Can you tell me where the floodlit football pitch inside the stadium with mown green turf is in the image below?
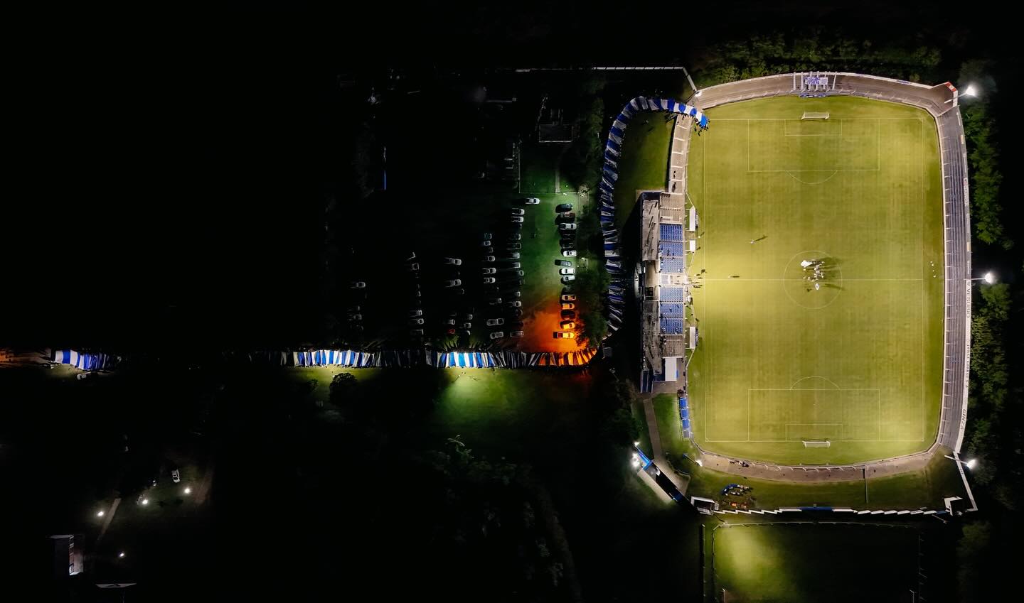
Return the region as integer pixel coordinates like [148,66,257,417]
[686,96,942,466]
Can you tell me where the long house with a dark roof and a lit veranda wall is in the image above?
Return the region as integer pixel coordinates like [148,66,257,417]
[54,532,77,577]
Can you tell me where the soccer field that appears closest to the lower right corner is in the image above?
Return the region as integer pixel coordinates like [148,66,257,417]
[714,523,919,603]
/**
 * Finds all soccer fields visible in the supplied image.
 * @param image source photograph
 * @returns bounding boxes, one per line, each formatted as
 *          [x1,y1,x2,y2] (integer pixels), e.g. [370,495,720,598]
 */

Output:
[686,96,942,466]
[714,523,919,603]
